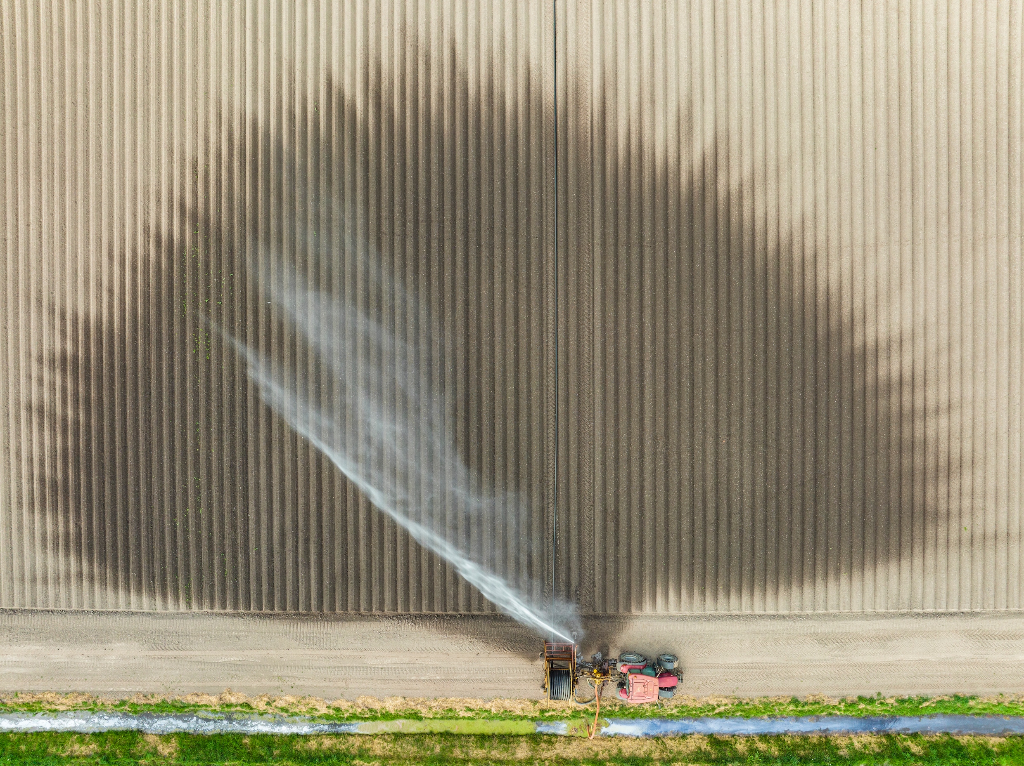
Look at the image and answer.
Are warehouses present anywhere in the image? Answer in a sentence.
No, there appears to be no warehouse in this shot.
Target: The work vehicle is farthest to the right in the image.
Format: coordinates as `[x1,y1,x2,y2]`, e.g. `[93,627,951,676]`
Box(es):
[614,653,683,709]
